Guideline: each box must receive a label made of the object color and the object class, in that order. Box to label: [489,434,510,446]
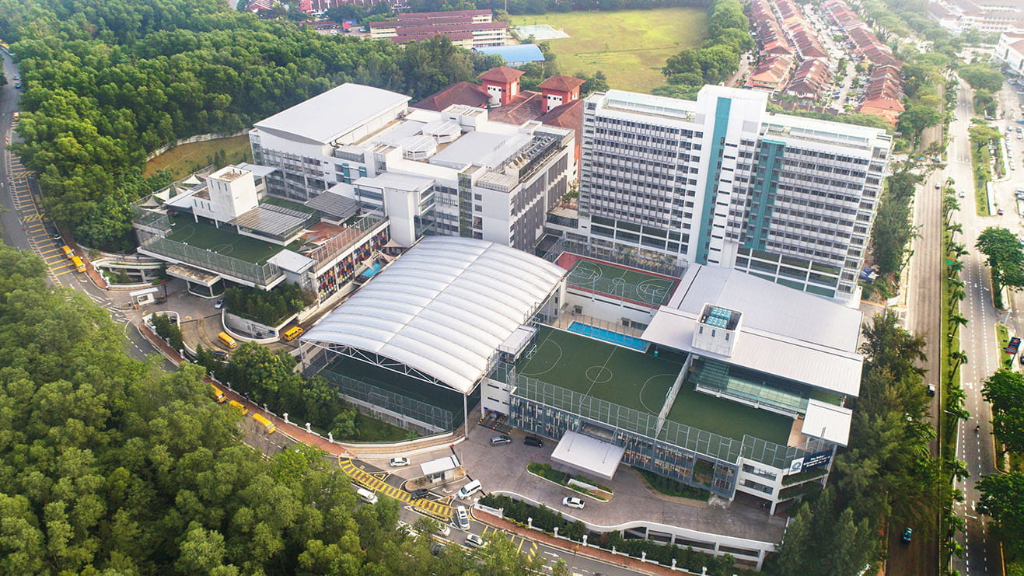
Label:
gray vehicle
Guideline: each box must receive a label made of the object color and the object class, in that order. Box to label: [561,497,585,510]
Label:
white vehicle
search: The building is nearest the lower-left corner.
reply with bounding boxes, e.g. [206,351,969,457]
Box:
[122,286,162,306]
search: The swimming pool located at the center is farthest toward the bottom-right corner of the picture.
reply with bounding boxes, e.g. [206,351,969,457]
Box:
[542,303,654,352]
